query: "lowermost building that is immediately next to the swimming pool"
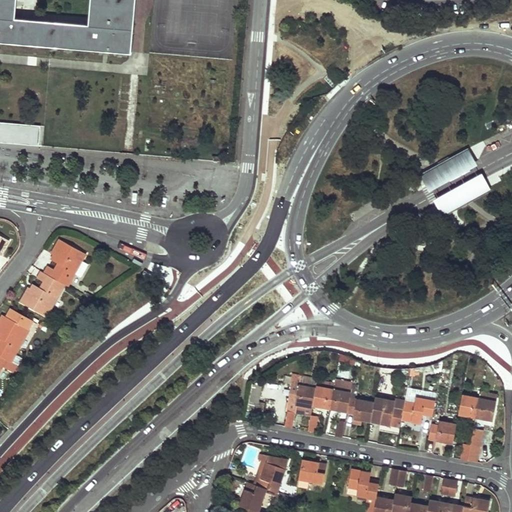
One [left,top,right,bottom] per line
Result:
[238,484,266,512]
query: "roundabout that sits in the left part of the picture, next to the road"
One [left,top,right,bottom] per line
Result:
[150,190,245,270]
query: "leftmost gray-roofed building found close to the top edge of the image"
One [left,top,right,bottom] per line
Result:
[0,0,135,54]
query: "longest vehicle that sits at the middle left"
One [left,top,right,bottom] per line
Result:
[122,244,146,259]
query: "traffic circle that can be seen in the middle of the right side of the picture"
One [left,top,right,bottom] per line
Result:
[276,30,512,426]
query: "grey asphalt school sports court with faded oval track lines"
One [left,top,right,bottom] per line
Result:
[149,0,236,60]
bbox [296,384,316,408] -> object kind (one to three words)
house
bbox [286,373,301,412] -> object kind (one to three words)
house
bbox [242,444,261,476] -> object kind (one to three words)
swimming pool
